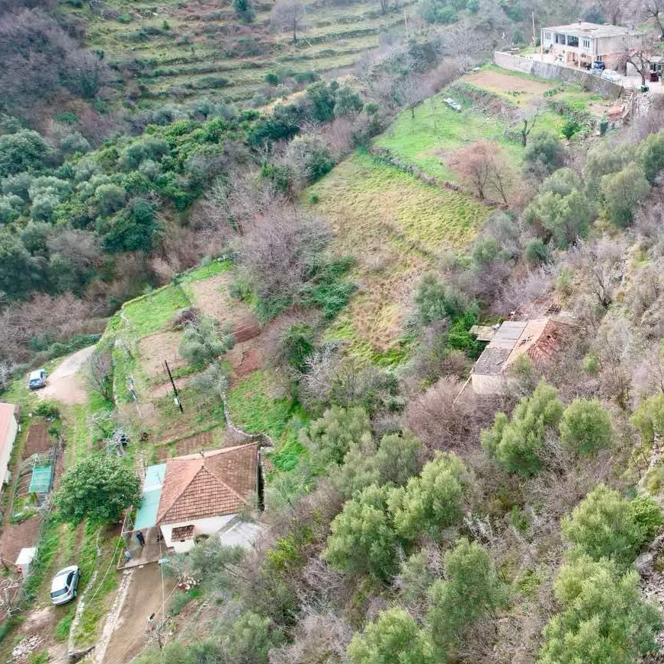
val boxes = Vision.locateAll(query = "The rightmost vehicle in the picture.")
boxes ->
[647,68,660,81]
